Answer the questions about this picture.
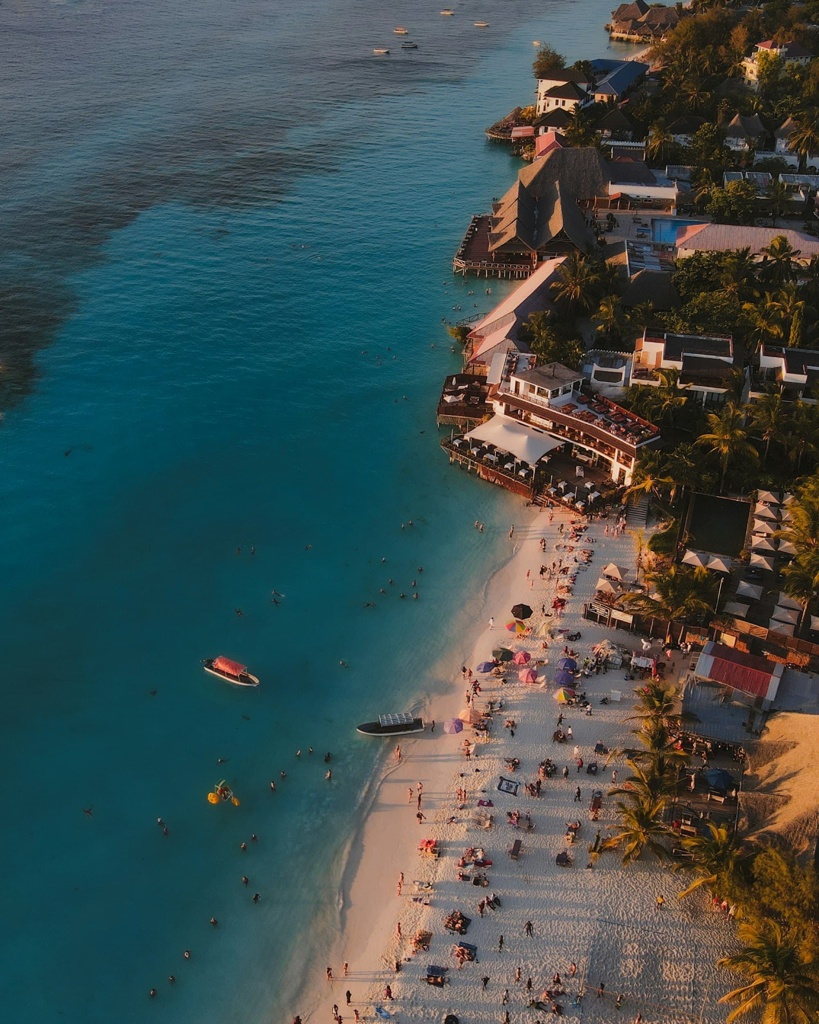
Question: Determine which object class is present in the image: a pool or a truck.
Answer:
pool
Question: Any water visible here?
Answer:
Yes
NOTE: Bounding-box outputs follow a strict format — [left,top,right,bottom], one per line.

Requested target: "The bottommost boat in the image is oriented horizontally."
[358,710,423,730]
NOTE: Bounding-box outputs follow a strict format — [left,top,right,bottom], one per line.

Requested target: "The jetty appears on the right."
[485,118,536,147]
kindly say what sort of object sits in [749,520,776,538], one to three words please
umbrella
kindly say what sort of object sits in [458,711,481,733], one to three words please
umbrella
